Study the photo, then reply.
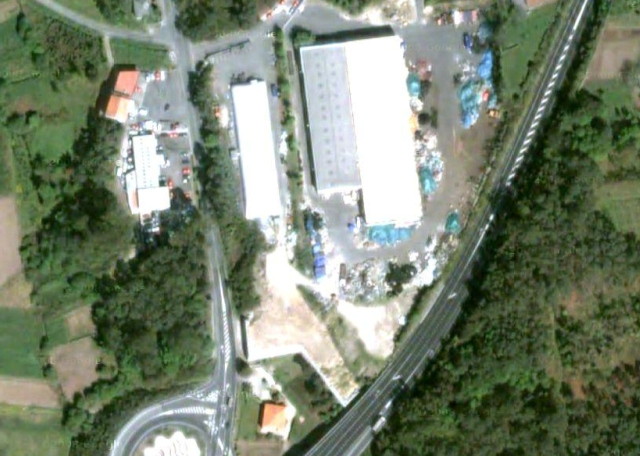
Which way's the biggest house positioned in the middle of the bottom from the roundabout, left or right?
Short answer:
to the right of it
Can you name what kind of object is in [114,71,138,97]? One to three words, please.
house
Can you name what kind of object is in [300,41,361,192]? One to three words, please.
building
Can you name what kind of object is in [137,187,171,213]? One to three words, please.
building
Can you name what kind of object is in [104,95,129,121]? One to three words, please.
house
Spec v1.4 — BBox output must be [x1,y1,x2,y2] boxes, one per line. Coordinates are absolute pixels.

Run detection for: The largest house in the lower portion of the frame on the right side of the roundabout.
[261,403,286,432]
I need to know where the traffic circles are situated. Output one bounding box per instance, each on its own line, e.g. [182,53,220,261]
[114,402,234,456]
